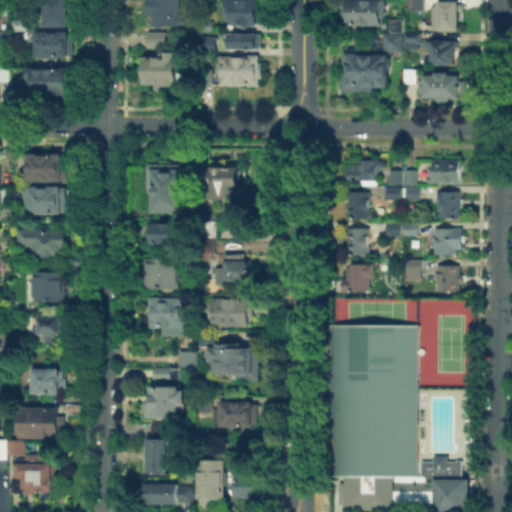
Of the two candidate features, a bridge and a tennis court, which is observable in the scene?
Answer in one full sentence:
The one in the frame is a tennis court.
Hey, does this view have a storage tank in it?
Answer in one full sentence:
No, I can't see a single storage tank in this photo.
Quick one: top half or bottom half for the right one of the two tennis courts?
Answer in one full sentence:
The bottom half of the photo is where the right one of the two tennis courts is.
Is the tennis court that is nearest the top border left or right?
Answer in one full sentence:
The tennis court that is nearest the top border sits on the right side.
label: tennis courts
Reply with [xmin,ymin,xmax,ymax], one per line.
[335,298,418,324]
[419,300,470,386]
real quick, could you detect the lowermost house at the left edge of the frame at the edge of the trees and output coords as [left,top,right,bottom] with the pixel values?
[13,464,50,498]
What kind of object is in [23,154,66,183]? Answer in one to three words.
house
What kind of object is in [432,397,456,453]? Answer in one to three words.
swimming pool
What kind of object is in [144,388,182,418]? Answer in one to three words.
house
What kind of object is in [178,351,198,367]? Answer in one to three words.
building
